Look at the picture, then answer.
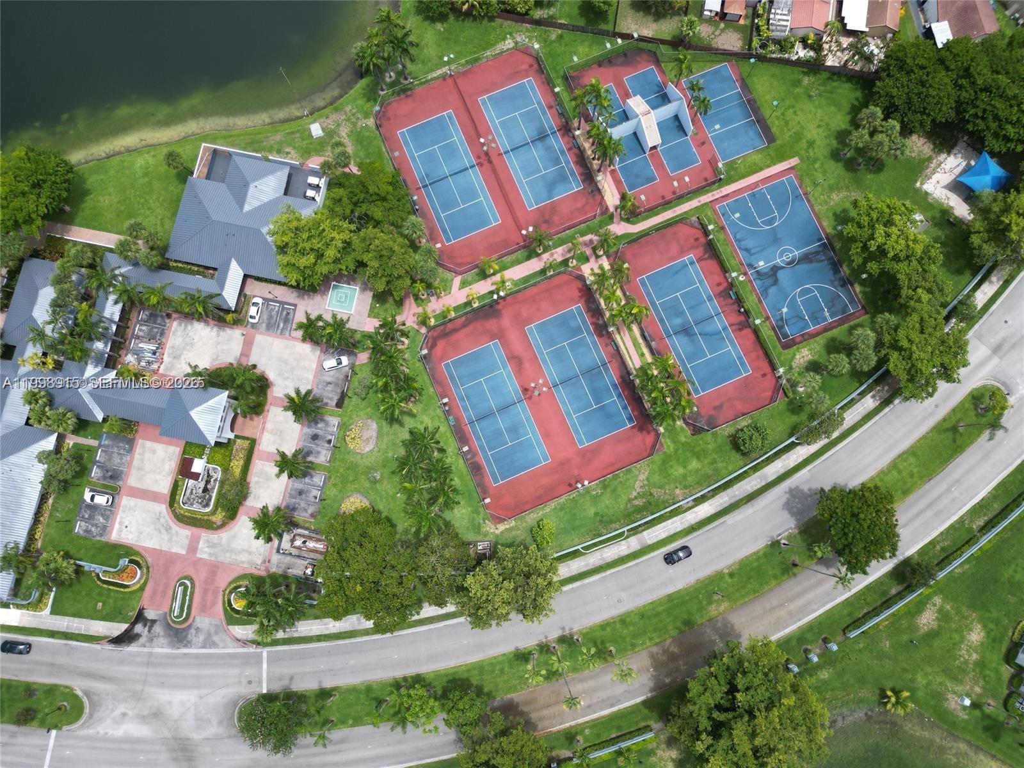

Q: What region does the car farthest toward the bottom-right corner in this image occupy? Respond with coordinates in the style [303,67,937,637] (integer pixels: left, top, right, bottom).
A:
[663,545,692,564]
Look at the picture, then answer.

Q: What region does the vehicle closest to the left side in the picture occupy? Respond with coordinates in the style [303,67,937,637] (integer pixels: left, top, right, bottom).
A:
[2,639,30,654]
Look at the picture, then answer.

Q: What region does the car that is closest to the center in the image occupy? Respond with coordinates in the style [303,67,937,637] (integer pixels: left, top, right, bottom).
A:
[322,356,349,371]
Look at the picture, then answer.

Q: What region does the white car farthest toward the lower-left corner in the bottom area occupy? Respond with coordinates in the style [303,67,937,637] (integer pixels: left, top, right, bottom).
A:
[86,491,112,505]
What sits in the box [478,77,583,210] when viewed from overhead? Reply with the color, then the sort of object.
blue tennis court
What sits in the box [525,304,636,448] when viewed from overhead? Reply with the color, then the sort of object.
blue tennis court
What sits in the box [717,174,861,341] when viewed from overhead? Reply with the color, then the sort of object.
blue basketball court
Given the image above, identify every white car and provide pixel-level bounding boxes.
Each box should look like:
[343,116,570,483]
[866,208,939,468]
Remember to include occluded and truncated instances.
[86,491,112,505]
[322,356,349,371]
[249,299,264,324]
